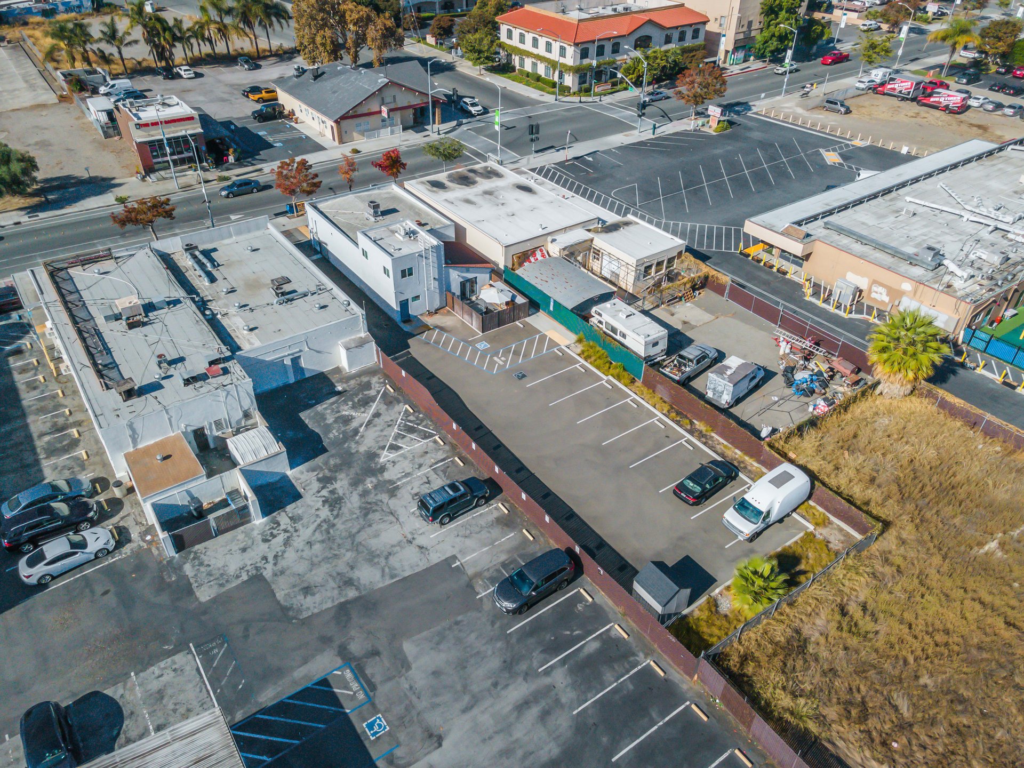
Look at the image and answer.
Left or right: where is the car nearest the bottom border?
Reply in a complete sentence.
You can find the car nearest the bottom border on the left side of the picture.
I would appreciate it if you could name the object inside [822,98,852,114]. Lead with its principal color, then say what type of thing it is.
gray car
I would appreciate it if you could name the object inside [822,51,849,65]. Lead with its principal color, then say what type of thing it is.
red vehicle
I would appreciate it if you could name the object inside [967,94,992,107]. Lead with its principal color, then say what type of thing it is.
white vehicle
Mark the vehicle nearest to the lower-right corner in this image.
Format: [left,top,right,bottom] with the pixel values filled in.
[714,468,809,547]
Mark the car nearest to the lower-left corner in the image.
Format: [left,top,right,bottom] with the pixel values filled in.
[13,698,84,768]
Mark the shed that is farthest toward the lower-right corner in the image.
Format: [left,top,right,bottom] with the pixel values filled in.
[627,556,695,624]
